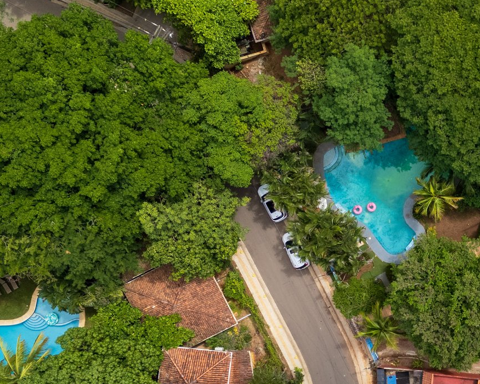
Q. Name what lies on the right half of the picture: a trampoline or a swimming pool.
swimming pool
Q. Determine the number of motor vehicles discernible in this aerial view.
2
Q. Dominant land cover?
trees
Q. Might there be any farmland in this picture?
No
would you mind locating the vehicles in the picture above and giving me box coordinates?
[255,184,285,223]
[279,232,309,271]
